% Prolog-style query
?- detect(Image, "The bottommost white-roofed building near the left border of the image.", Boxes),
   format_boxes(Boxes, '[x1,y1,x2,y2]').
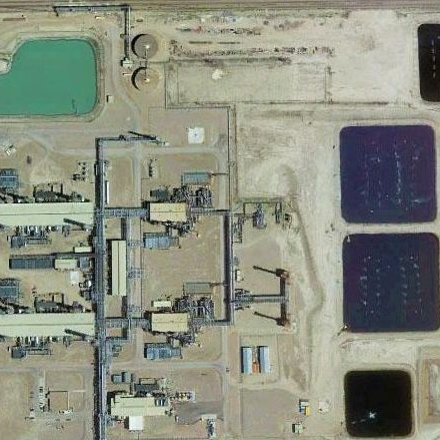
[0,314,95,337]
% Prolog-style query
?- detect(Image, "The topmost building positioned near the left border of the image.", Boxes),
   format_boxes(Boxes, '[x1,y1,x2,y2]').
[0,202,94,226]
